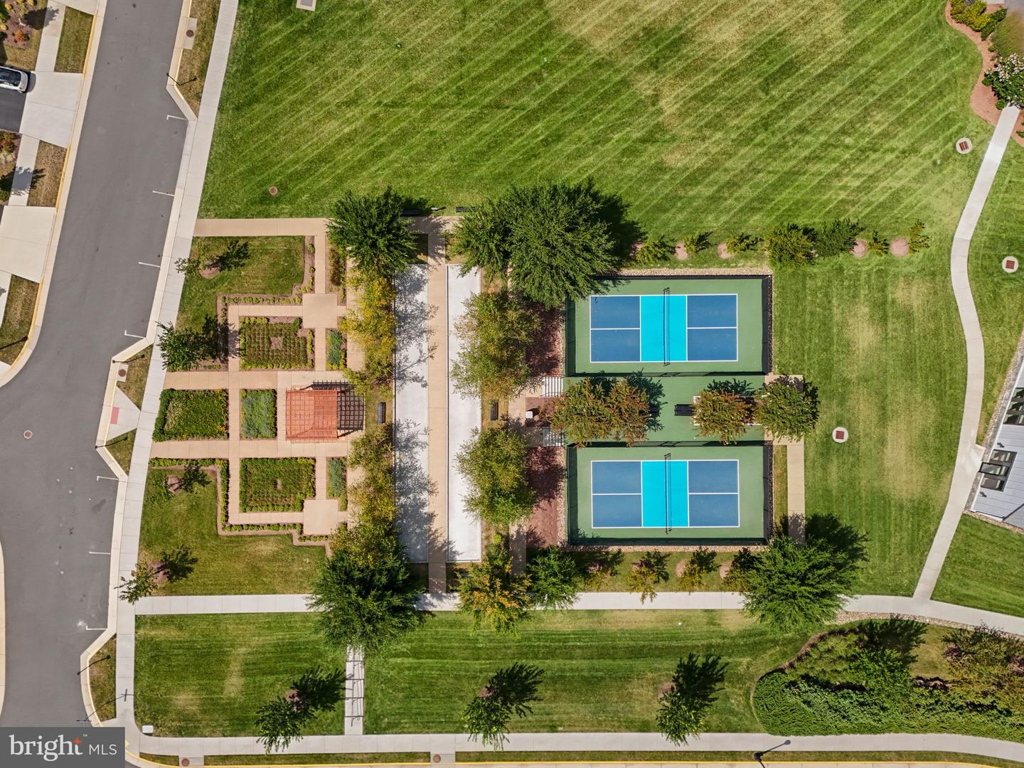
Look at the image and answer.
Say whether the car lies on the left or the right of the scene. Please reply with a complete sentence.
The car is on the left side of the image.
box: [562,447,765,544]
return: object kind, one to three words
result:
sports court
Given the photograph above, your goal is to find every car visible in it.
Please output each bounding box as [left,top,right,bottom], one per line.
[0,60,31,88]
